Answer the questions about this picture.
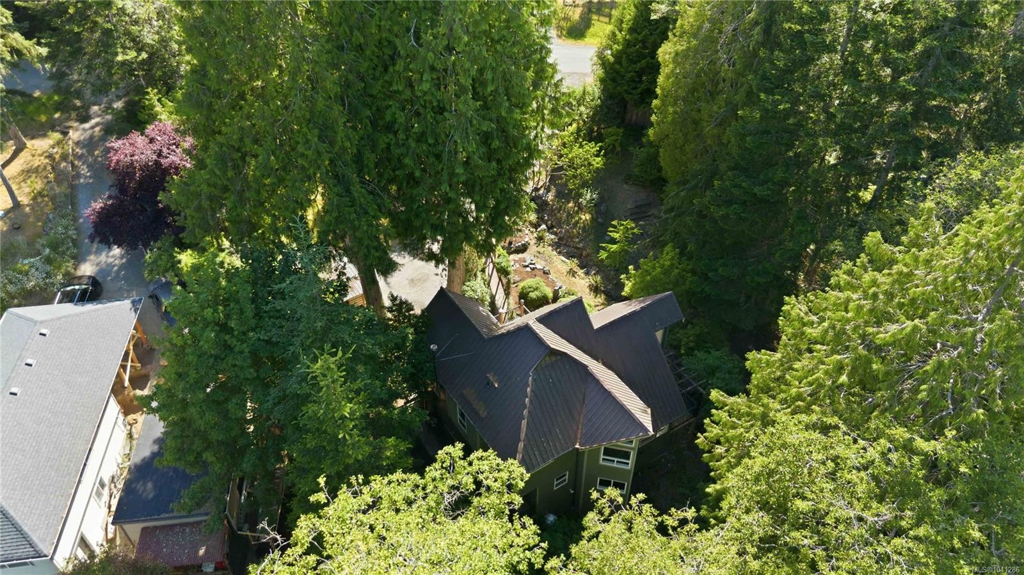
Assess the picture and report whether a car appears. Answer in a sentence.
Yes, there's a car down there.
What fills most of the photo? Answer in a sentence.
The bulk of the photo consists of trees.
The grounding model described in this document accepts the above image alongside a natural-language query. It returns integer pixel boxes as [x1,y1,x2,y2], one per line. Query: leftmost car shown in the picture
[57,275,119,306]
